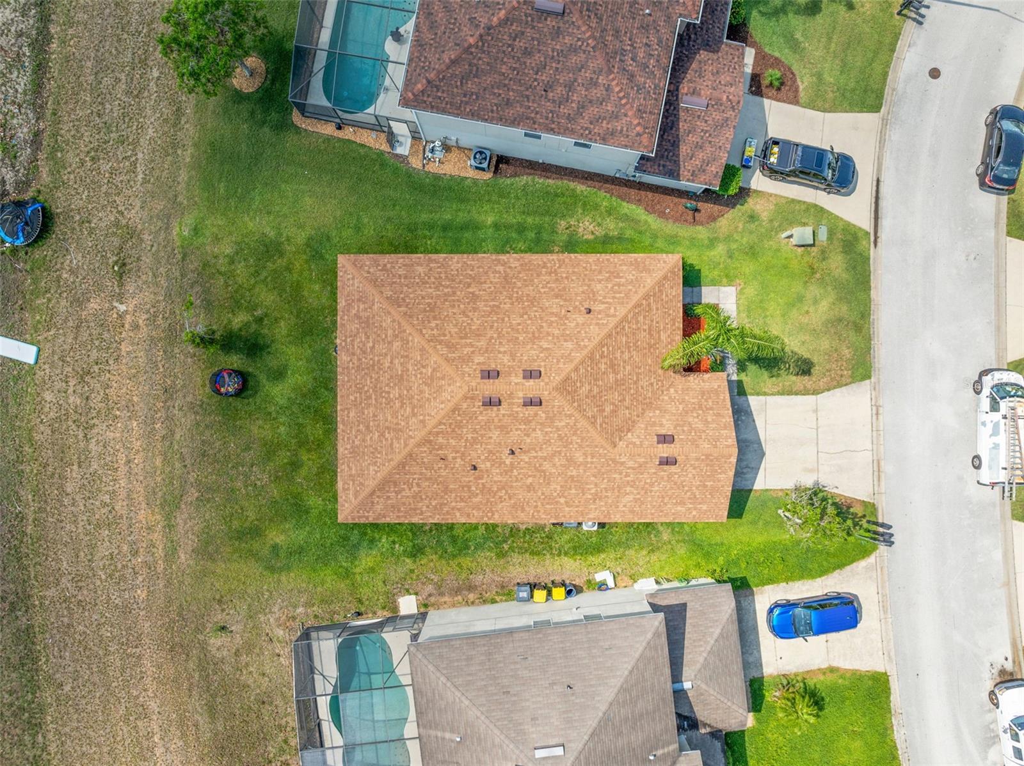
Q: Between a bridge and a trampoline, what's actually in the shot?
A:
trampoline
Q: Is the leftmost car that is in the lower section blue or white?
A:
blue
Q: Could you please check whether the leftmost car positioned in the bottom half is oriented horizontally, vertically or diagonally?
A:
horizontally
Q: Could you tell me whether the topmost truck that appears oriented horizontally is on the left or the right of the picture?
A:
right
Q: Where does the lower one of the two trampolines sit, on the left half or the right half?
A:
left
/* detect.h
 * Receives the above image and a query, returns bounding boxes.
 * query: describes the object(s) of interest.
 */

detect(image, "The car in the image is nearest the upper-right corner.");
[972,101,1024,192]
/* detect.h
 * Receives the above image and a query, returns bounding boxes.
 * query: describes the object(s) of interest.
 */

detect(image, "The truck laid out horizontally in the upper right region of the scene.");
[756,135,860,194]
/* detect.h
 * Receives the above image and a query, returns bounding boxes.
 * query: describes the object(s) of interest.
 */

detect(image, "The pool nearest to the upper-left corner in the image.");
[320,0,415,116]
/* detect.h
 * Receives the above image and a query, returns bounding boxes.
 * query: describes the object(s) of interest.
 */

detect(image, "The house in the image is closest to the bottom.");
[407,578,749,766]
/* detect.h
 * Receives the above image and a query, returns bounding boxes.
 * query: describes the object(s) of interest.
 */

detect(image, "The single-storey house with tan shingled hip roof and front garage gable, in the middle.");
[336,254,739,523]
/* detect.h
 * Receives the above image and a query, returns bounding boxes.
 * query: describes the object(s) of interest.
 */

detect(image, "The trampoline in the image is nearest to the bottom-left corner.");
[205,367,245,399]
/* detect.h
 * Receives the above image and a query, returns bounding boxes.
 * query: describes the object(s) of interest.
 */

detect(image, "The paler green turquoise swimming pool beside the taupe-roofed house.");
[327,628,413,766]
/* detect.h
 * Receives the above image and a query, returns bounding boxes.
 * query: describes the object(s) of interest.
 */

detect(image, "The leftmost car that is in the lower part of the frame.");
[766,589,862,640]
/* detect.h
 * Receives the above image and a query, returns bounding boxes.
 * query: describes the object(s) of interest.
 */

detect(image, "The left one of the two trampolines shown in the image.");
[0,193,47,251]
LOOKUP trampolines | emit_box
[205,367,245,399]
[0,193,47,251]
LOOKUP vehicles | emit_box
[756,135,860,194]
[972,101,1024,192]
[984,683,1024,766]
[970,367,1024,483]
[766,589,862,640]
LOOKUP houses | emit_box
[336,254,739,523]
[395,0,746,197]
[407,578,749,766]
